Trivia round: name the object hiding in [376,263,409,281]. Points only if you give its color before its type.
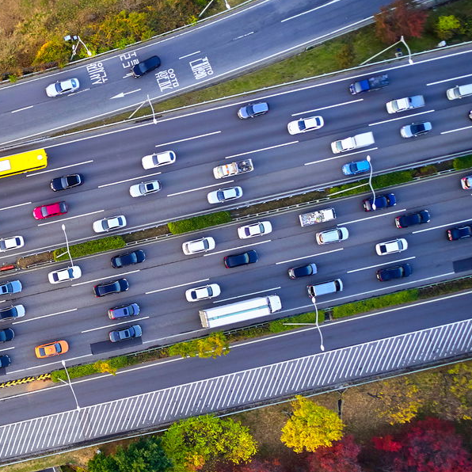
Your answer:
black car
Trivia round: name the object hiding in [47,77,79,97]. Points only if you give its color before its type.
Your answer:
white car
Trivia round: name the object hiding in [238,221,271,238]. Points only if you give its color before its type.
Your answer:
white car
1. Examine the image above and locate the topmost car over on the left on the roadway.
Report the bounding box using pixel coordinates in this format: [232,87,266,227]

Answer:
[130,56,163,77]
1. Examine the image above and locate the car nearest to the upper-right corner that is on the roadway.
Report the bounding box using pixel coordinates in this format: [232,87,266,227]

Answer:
[444,83,472,101]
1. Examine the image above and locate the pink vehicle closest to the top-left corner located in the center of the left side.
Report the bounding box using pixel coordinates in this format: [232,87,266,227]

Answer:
[34,201,66,219]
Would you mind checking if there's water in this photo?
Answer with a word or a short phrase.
No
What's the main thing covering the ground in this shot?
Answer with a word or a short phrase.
paved ground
